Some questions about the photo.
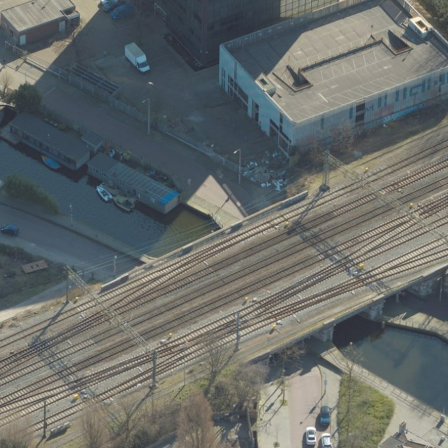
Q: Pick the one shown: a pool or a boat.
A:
boat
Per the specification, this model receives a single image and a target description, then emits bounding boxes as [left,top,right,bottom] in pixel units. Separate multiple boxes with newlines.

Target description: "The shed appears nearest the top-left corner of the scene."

[0,0,81,43]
